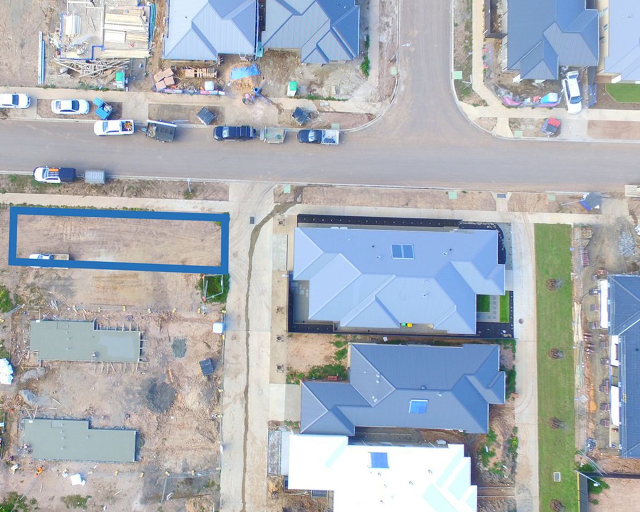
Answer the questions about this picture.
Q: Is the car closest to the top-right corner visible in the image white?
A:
Yes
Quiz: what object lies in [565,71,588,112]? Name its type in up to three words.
car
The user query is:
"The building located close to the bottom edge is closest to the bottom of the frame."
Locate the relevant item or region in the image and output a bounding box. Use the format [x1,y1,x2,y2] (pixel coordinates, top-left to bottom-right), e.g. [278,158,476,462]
[287,432,477,512]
